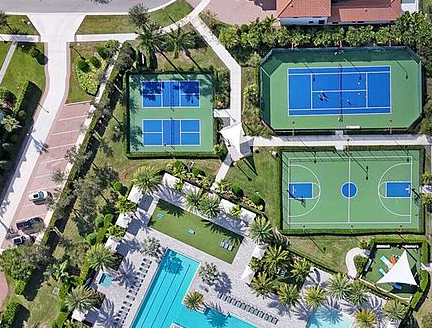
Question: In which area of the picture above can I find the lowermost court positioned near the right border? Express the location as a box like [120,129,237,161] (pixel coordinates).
[281,151,420,231]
